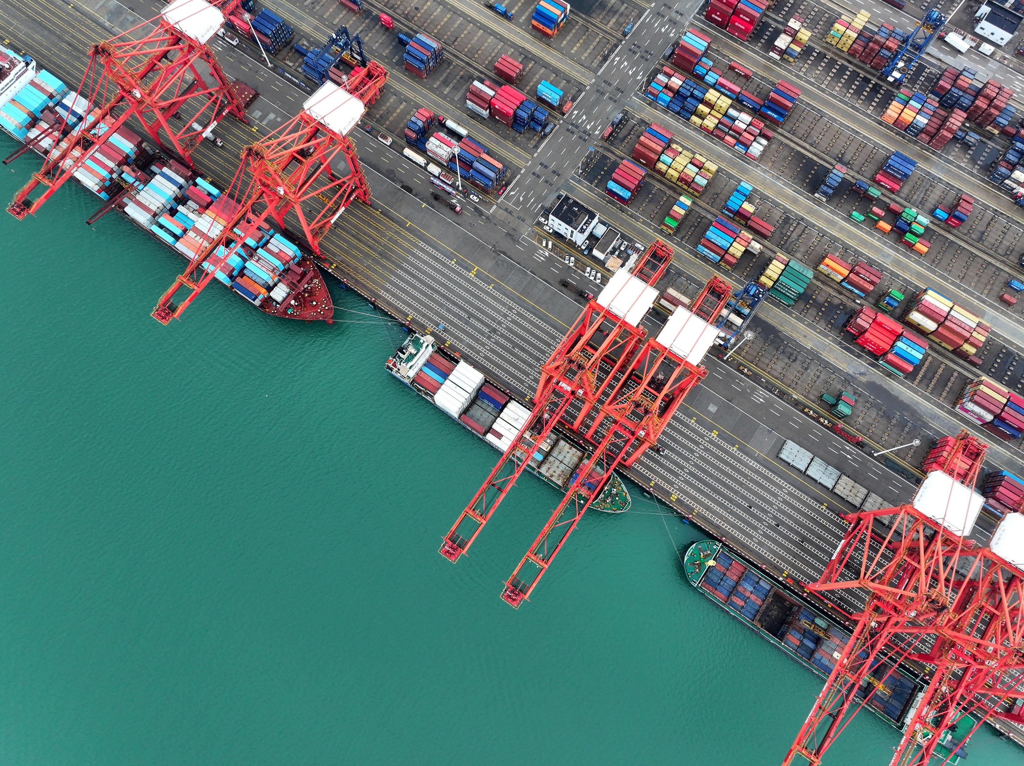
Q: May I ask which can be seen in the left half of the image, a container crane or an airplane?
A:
container crane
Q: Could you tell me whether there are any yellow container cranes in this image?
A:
No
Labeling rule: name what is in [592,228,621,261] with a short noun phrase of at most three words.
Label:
building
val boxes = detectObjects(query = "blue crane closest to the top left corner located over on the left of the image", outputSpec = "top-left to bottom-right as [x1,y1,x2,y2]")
[308,24,366,88]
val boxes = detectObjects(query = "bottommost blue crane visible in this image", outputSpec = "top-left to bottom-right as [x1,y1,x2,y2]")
[717,278,769,350]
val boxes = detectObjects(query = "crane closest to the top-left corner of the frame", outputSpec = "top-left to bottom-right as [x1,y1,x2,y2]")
[0,0,251,235]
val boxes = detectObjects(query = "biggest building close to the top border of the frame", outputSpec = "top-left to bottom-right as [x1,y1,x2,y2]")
[970,2,1023,45]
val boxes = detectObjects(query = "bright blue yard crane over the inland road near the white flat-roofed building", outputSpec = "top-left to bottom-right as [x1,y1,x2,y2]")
[880,7,947,86]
